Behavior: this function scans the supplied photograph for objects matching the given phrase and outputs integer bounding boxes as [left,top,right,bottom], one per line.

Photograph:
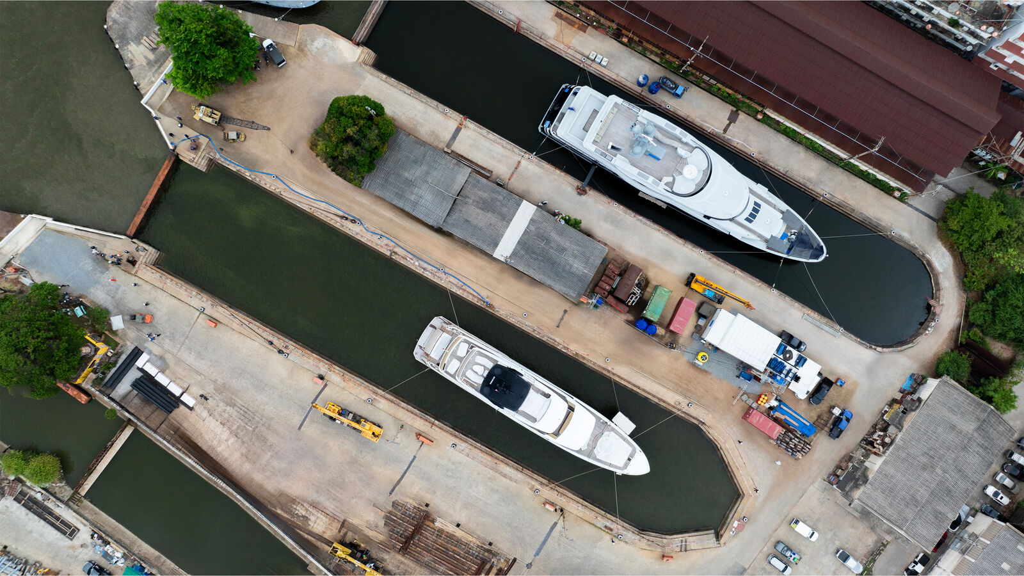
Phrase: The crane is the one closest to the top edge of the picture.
[191,103,272,132]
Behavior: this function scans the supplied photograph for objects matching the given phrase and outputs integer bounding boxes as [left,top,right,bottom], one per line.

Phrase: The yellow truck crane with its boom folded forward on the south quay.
[310,400,385,442]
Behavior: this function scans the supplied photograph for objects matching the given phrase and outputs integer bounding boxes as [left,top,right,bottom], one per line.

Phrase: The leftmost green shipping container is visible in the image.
[641,284,672,322]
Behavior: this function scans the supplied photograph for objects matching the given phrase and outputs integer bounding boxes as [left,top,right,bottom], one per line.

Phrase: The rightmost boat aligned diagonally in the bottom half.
[413,316,650,475]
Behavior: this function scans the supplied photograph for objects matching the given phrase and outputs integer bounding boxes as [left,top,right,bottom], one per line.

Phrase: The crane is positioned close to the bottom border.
[328,539,389,576]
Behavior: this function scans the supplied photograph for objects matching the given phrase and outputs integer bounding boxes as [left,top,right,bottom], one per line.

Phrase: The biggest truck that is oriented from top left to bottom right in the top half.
[262,39,287,69]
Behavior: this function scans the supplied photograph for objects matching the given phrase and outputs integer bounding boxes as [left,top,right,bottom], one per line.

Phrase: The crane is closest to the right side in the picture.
[683,273,756,310]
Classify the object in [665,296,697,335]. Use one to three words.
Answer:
shipping container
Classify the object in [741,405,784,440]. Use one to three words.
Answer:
shipping container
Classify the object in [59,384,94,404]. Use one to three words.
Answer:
ship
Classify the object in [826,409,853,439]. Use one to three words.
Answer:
truck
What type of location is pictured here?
port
